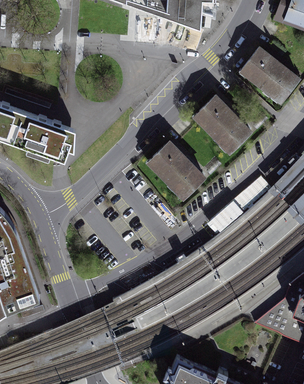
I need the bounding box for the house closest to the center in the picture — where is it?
[146,140,207,202]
